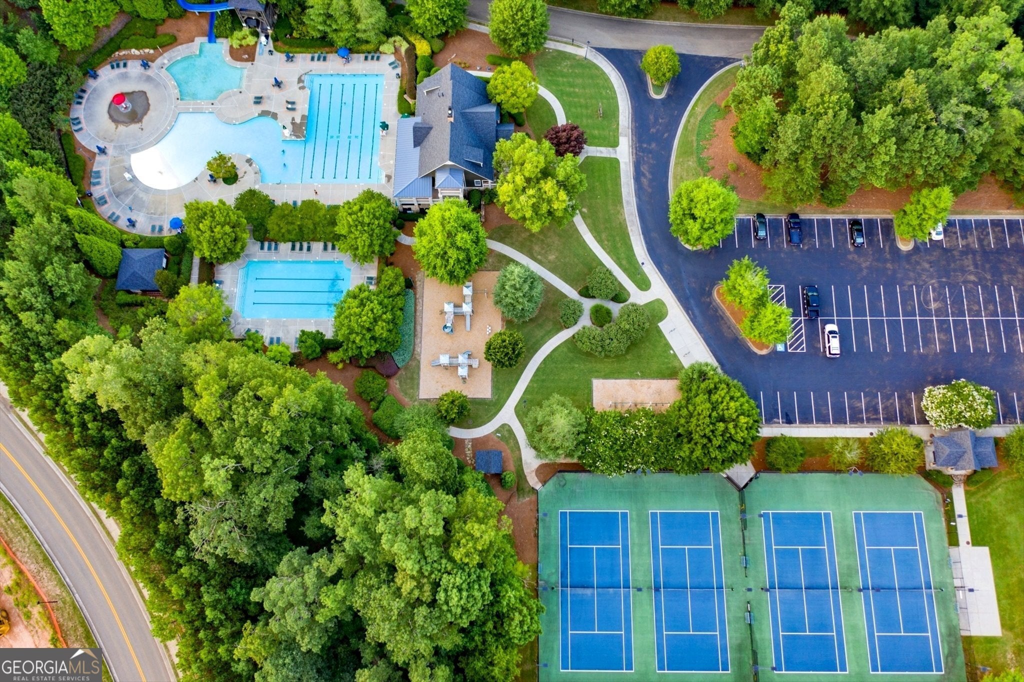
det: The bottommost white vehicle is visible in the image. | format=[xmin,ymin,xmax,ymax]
[822,326,840,357]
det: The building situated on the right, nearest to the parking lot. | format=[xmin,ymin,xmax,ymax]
[927,431,998,471]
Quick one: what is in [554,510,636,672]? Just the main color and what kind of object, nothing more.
blue tennis court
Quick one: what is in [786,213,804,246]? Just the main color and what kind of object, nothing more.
blue vehicle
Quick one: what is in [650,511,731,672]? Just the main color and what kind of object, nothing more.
blue tennis court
